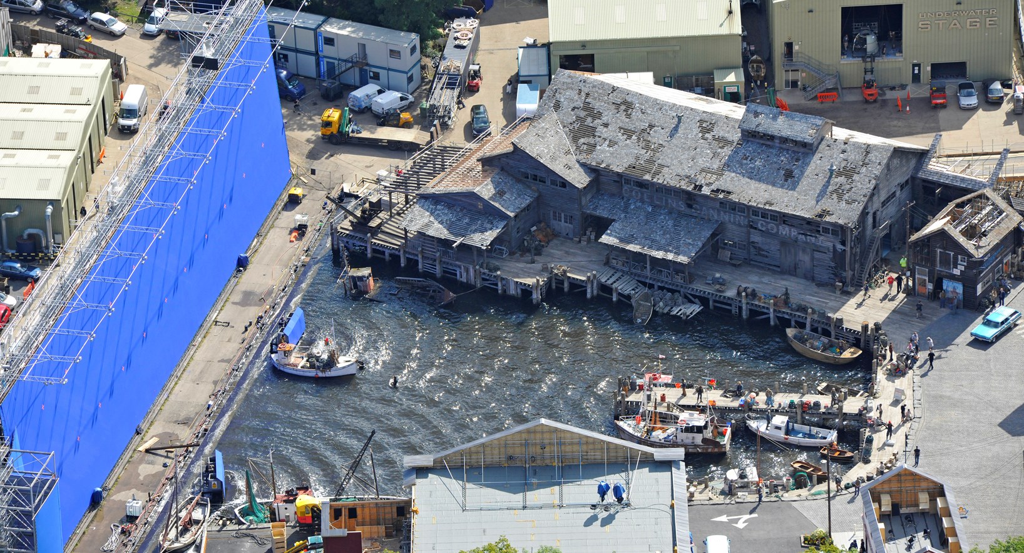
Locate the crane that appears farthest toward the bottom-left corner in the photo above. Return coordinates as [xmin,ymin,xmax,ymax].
[292,430,376,537]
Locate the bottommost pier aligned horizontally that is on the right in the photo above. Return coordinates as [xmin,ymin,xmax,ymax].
[613,381,869,438]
